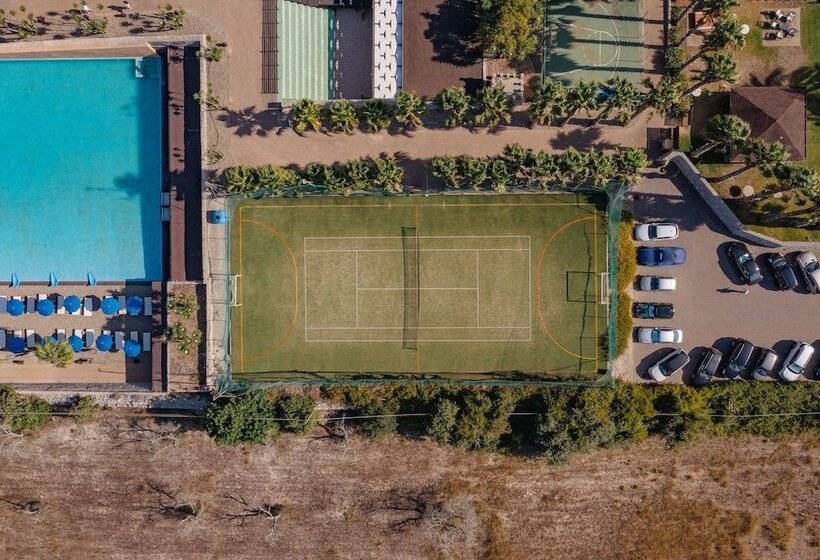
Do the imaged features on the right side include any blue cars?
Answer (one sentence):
Yes, on the right side there is a blue car.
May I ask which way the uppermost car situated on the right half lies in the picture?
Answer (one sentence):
What the image shows is the uppermost car situated on the right half lying horizontally.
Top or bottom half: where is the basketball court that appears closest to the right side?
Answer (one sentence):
It is in the top half that the basketball court that appears closest to the right side appears.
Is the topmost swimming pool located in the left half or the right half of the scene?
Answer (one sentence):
The topmost swimming pool is on the left side of the image.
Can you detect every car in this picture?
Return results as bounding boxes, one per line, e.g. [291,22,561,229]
[637,327,681,347]
[689,344,725,388]
[776,340,814,384]
[720,336,755,381]
[726,241,762,285]
[646,347,689,381]
[638,274,676,293]
[791,250,820,294]
[748,346,779,381]
[633,301,675,321]
[634,220,679,242]
[762,251,799,293]
[636,246,685,268]
[808,357,820,386]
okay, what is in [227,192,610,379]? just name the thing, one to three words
sports court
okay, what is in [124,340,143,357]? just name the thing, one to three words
umbrella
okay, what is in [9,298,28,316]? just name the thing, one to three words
umbrella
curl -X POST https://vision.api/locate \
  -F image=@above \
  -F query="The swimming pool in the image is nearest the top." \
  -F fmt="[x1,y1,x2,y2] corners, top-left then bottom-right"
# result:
[0,57,162,284]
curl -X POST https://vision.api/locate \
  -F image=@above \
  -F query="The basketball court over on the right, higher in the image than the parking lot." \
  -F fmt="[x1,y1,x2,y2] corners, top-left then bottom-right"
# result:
[547,0,643,102]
